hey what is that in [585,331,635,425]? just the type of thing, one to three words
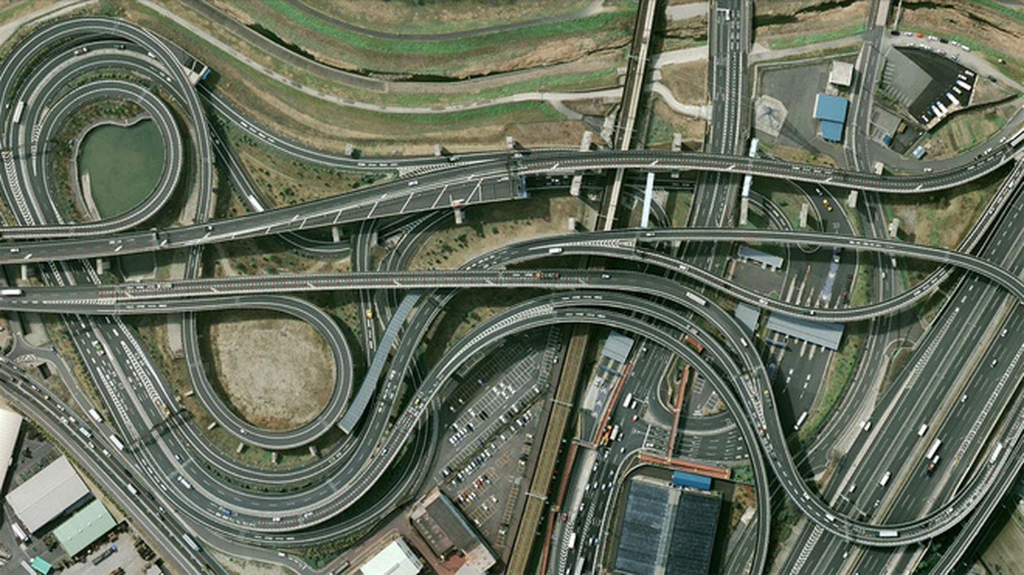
toll station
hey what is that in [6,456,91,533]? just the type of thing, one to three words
building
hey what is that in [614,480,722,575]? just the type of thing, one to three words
building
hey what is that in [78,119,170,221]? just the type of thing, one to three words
pond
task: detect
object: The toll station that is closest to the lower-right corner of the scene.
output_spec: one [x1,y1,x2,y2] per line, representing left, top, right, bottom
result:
[762,242,857,440]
